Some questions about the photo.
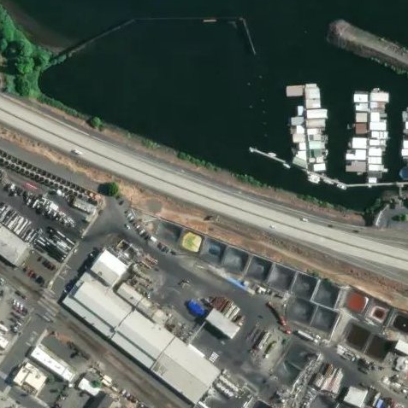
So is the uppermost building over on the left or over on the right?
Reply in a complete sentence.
The uppermost building appears in the left half of the scene.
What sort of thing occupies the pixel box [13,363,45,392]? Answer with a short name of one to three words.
building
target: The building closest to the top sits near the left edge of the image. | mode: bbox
[0,227,28,267]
